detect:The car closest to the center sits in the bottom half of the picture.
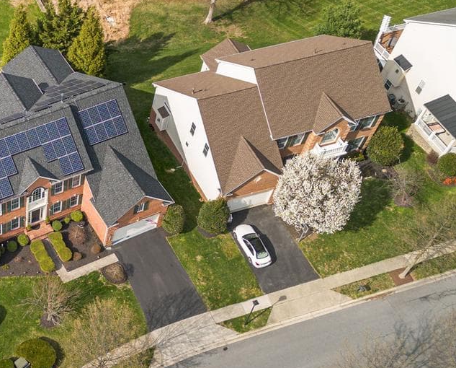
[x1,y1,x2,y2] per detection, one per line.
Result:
[233,223,275,270]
